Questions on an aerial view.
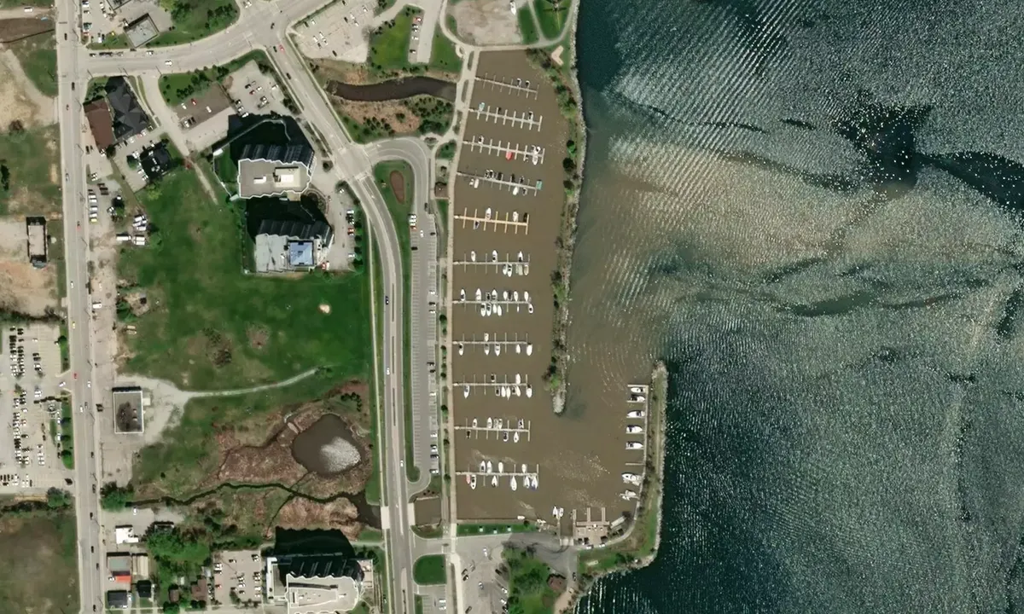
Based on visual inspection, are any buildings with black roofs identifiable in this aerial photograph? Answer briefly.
Yes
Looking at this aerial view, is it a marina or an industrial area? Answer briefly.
marina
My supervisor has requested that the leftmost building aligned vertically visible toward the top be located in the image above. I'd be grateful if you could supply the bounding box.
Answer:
[27,218,49,269]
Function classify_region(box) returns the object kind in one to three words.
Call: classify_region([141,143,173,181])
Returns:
building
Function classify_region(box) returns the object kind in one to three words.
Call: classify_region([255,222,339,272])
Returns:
building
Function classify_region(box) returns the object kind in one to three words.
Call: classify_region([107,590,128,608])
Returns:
house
